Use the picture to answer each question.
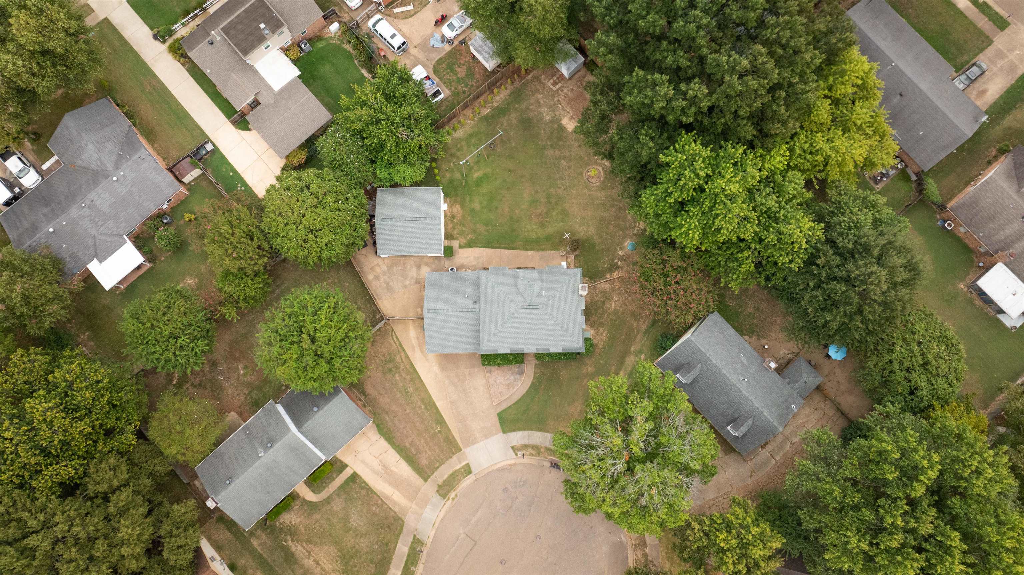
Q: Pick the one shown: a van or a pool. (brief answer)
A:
van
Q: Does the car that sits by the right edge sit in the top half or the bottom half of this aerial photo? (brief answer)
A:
top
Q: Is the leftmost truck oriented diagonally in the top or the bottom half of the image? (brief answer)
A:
top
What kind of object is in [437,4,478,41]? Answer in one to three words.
car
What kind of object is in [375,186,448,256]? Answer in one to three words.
building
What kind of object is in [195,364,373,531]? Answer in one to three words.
house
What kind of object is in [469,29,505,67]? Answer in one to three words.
shed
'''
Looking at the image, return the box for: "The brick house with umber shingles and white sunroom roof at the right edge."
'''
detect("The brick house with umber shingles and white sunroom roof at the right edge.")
[941,132,1024,320]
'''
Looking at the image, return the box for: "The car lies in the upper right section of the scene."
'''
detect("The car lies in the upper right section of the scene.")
[953,55,996,91]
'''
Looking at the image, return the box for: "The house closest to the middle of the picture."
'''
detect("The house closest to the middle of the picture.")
[423,266,588,355]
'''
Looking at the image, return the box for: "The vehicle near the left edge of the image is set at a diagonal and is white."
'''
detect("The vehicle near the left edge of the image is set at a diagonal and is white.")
[0,141,38,191]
